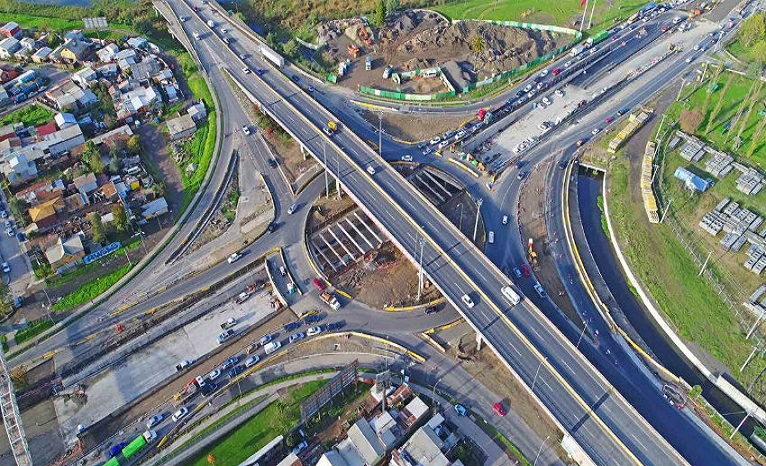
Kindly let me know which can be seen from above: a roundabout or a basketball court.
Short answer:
roundabout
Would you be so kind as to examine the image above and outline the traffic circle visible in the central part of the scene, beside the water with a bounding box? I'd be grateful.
[264,130,540,360]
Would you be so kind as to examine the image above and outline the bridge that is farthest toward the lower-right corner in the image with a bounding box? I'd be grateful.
[714,376,766,425]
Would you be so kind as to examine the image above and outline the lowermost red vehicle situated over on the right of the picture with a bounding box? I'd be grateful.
[494,401,506,416]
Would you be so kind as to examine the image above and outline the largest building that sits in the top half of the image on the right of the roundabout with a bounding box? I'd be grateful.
[672,165,710,192]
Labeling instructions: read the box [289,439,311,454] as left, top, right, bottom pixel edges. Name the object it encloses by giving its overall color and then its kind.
blue vehicle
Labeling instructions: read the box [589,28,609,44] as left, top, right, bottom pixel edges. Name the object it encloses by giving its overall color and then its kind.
green vehicle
